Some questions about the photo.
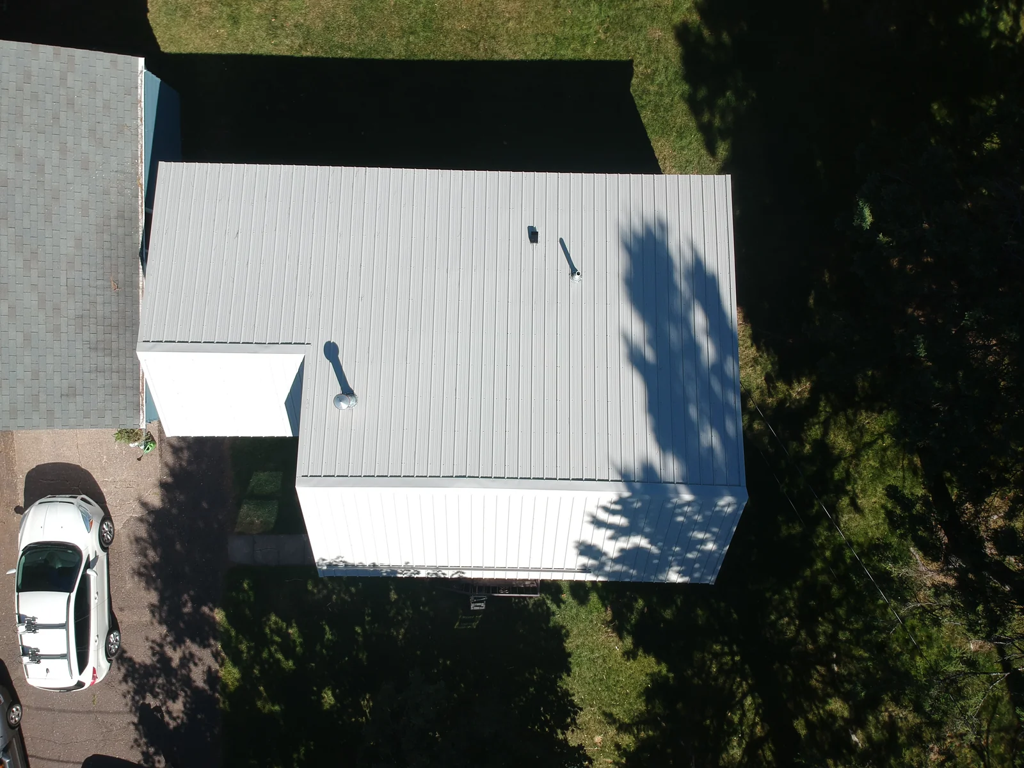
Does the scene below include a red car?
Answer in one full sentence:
No, no red car can be seen from above.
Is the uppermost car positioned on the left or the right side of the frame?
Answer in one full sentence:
The uppermost car is on the left side of the image.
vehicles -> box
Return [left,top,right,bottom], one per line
[0,687,26,768]
[7,499,119,691]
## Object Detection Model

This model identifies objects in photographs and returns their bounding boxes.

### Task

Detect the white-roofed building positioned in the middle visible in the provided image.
[134,161,749,585]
